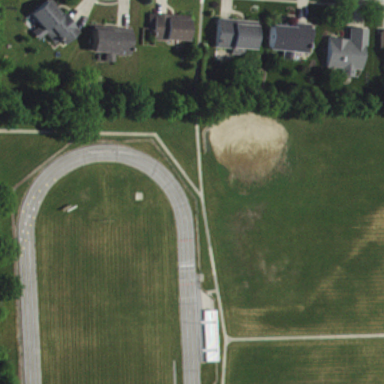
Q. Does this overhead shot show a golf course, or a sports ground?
sports ground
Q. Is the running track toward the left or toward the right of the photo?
left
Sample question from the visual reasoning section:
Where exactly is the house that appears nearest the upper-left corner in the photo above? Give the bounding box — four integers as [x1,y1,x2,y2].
[32,0,86,44]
